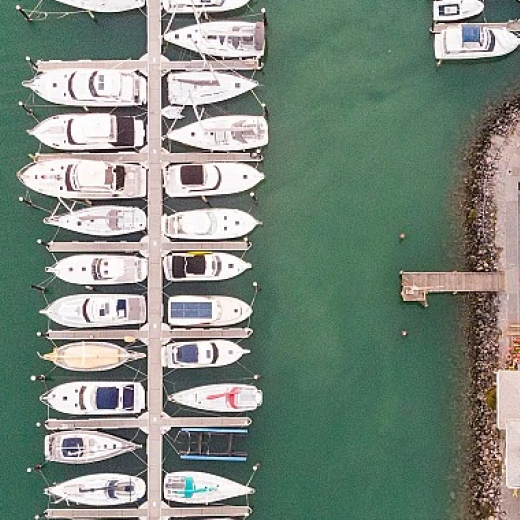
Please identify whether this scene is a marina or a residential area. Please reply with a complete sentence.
The picture captures a marina.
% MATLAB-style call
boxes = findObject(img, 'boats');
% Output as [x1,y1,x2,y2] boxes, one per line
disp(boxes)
[161,240,253,289]
[161,332,251,375]
[32,470,147,517]
[432,0,485,23]
[33,428,147,470]
[37,376,147,426]
[161,37,261,112]
[161,380,263,413]
[26,202,148,243]
[161,95,269,152]
[36,288,148,335]
[161,0,266,57]
[161,290,254,332]
[14,155,150,206]
[434,26,520,60]
[162,106,183,120]
[161,154,266,205]
[56,0,147,23]
[161,200,263,247]
[23,107,148,158]
[161,464,255,509]
[38,245,148,292]
[37,335,147,377]
[20,62,149,116]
